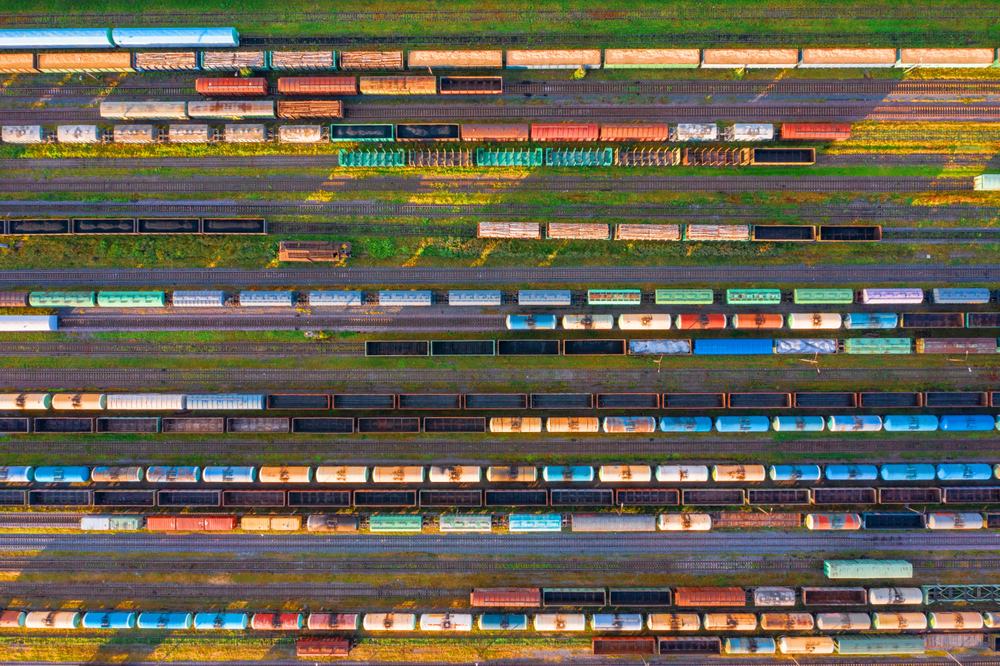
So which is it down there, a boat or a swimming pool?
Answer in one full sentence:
Of the two, only a boat appears.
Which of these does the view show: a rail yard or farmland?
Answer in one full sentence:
The picture captures a rail yard.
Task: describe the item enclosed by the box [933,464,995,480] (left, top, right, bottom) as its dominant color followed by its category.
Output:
blue rail car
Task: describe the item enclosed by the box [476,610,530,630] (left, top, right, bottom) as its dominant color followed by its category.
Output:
blue rail car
